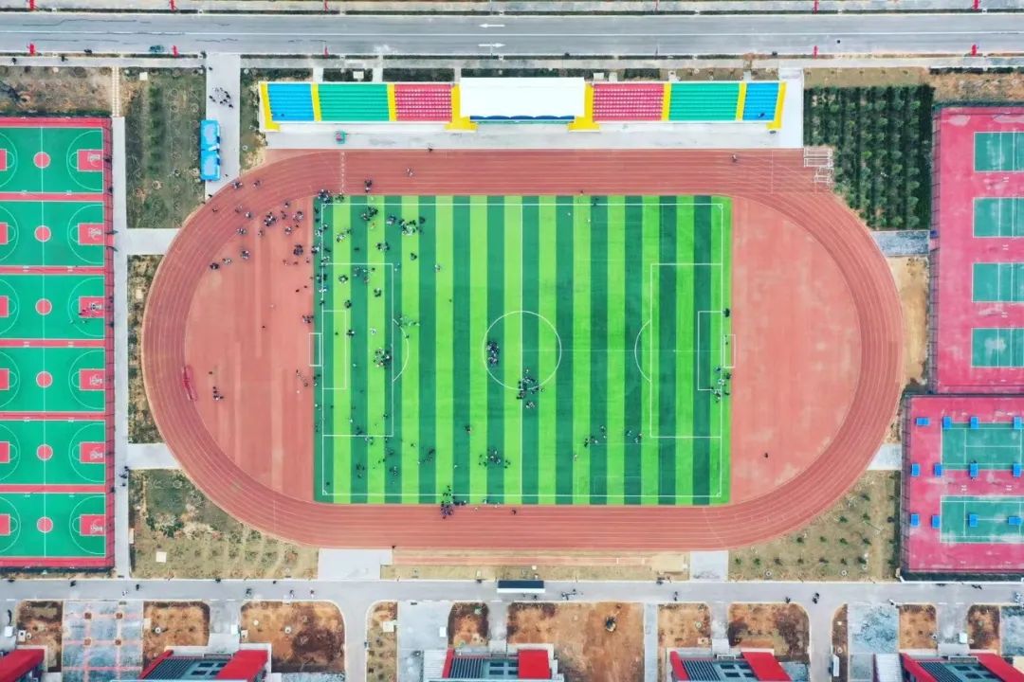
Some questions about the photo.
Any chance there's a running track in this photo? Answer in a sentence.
Yes, there is a running track in the image.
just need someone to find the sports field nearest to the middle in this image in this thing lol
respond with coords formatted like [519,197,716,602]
[314,195,732,505]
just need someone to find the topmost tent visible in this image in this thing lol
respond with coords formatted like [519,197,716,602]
[201,120,225,151]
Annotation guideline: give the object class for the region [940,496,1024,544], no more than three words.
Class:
tennis court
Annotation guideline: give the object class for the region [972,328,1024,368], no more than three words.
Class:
sports court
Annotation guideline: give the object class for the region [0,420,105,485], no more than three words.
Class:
basketball court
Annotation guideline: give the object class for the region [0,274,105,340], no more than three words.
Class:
basketball court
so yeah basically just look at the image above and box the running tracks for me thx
[141,147,904,552]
